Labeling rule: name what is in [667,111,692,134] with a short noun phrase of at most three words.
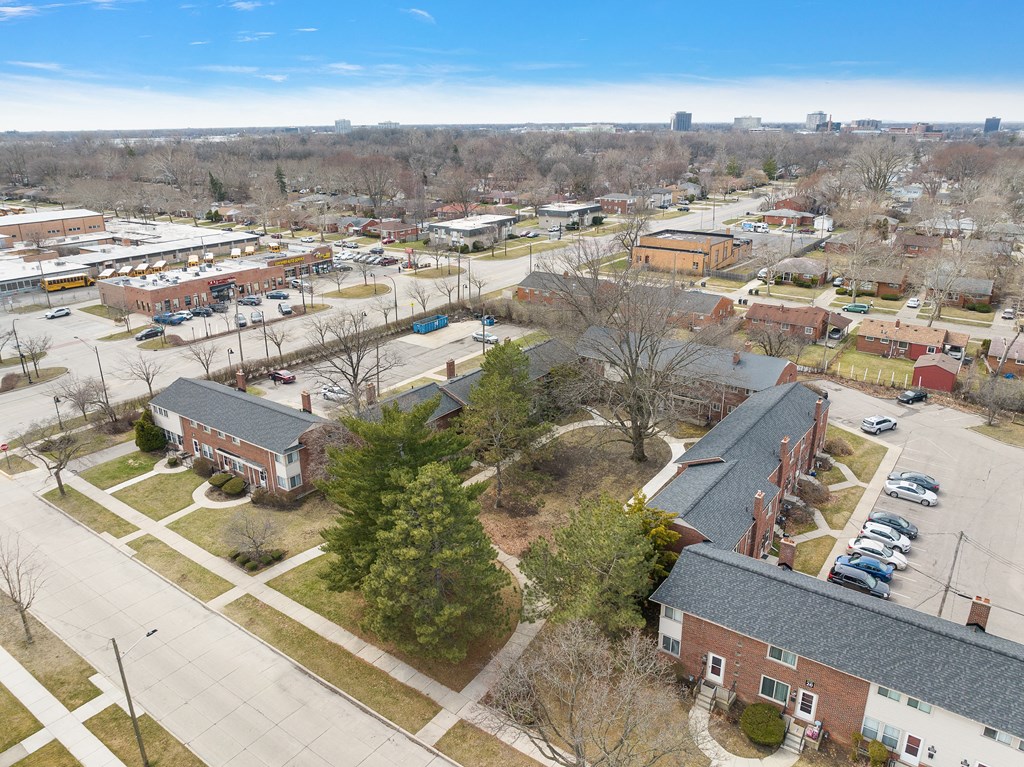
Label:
building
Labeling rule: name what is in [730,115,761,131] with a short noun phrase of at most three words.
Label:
building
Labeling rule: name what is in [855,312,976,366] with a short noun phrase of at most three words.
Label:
house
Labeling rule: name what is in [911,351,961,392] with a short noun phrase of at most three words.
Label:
shed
